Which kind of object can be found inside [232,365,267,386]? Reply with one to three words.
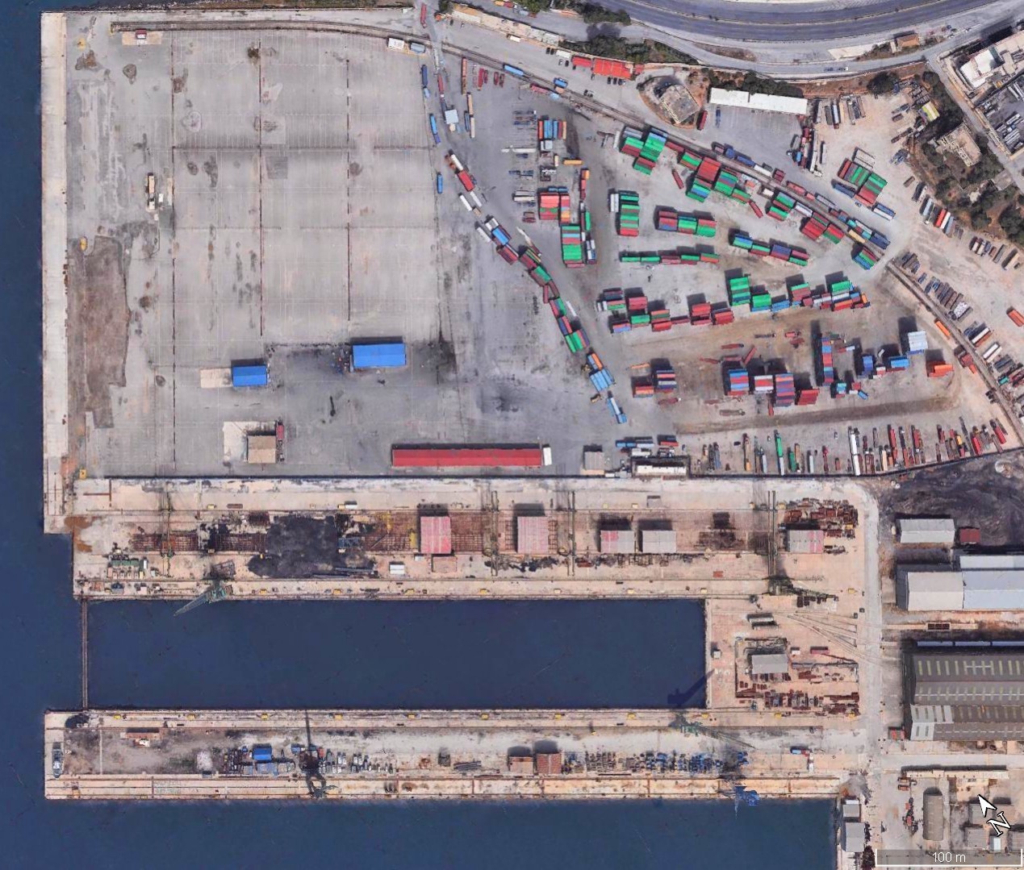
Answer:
shed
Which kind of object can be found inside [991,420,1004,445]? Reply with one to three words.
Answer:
vehicle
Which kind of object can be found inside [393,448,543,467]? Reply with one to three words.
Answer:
shed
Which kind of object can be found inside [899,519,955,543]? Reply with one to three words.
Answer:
building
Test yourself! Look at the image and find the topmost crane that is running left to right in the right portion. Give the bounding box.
[765,577,837,600]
